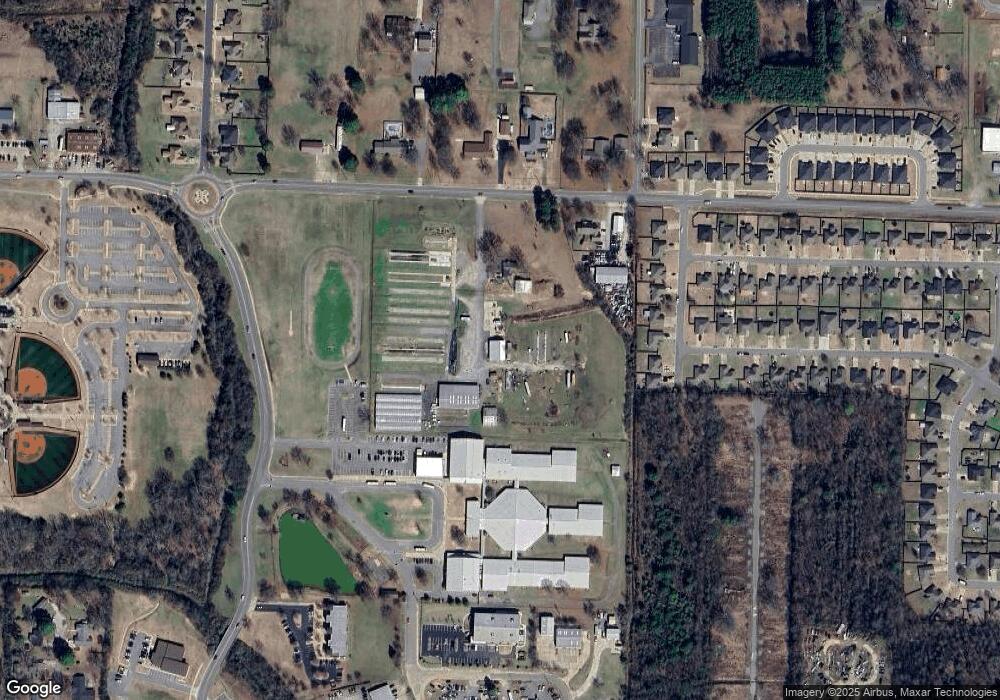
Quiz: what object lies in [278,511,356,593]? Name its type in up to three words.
pond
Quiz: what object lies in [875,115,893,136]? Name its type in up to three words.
house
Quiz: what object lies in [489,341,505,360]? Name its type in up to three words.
barn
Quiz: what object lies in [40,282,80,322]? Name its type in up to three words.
roundabout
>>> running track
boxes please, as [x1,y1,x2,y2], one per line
[302,252,361,370]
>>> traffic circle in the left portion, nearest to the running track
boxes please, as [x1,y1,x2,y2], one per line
[168,160,237,238]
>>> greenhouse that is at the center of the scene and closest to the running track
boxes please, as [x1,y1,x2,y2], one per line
[376,394,421,431]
